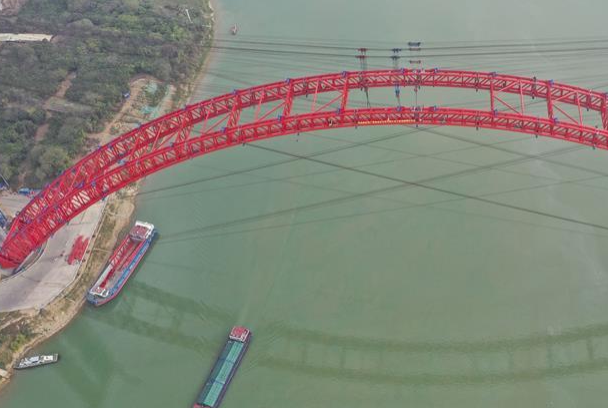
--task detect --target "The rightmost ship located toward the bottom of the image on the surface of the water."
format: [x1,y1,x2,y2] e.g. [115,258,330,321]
[192,322,254,408]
